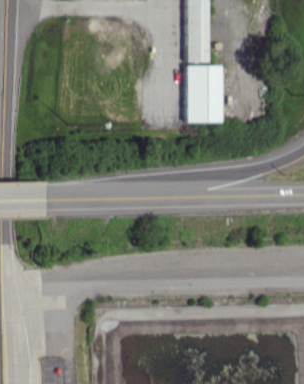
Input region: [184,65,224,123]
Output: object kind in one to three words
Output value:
building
